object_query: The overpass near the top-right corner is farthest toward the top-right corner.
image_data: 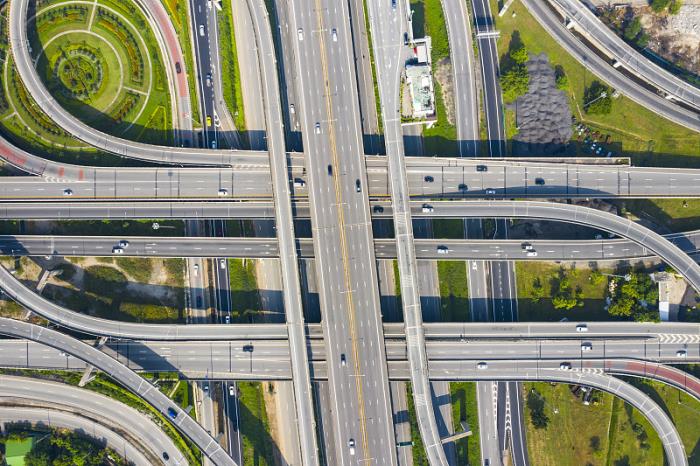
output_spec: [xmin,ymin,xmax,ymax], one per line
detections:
[552,0,700,111]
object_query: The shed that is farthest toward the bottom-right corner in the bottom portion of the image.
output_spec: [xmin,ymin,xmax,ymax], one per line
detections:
[655,280,669,321]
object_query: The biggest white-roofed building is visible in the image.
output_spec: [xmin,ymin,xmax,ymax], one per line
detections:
[401,38,438,127]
